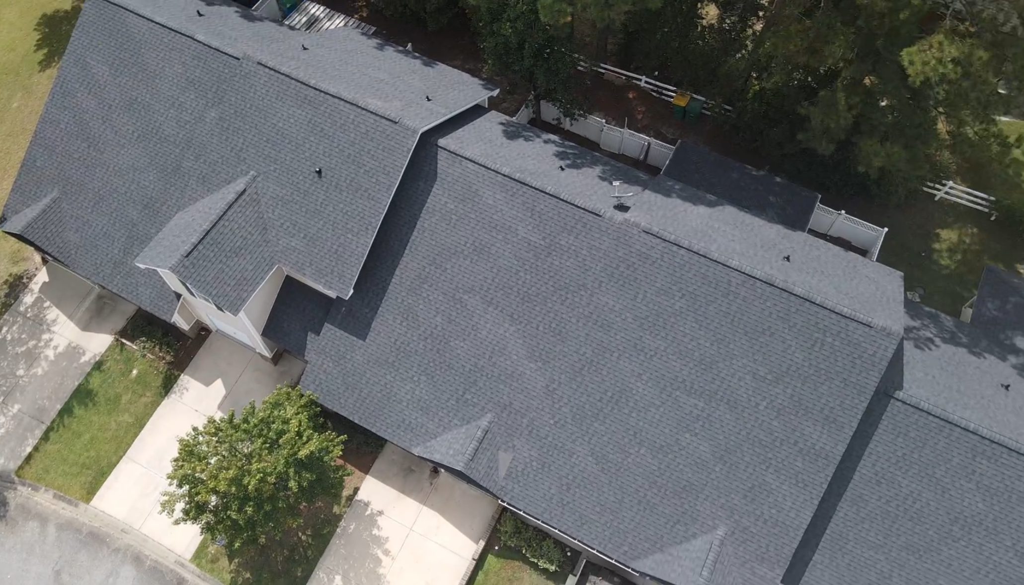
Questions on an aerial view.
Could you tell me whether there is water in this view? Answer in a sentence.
No, water can't be seen anywhere here.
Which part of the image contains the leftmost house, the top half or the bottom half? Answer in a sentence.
The leftmost house is in the top half of the image.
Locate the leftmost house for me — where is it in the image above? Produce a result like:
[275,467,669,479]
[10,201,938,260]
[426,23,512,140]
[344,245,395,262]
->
[0,0,503,368]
